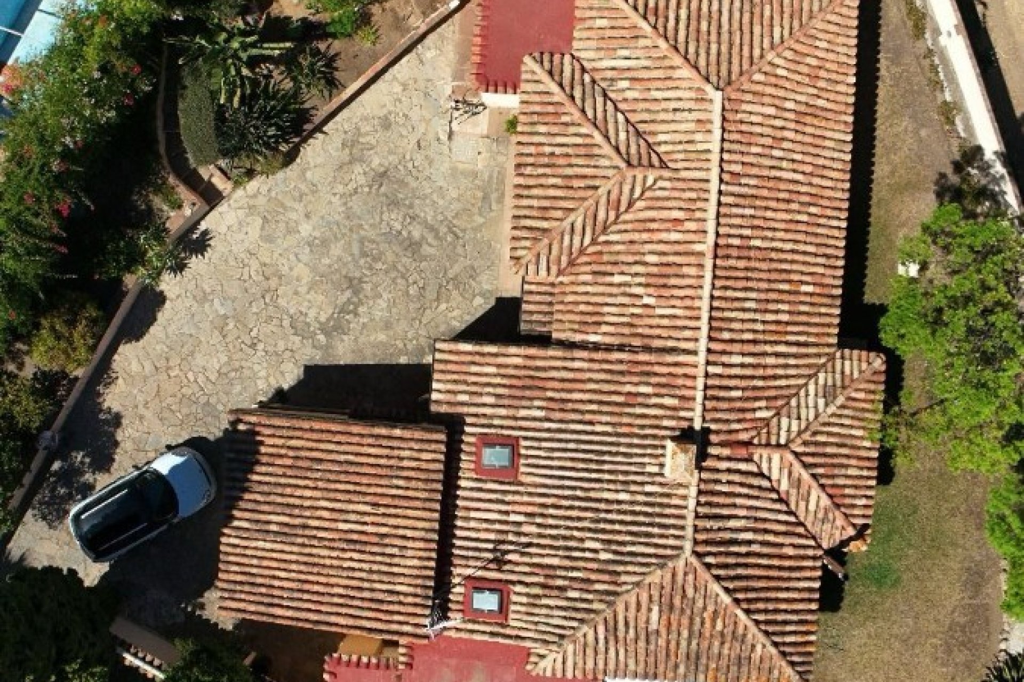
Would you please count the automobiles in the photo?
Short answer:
1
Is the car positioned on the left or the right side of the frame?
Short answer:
left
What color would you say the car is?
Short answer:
black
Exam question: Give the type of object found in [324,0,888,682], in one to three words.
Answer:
house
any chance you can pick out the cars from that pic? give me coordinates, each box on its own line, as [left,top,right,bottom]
[67,443,222,561]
